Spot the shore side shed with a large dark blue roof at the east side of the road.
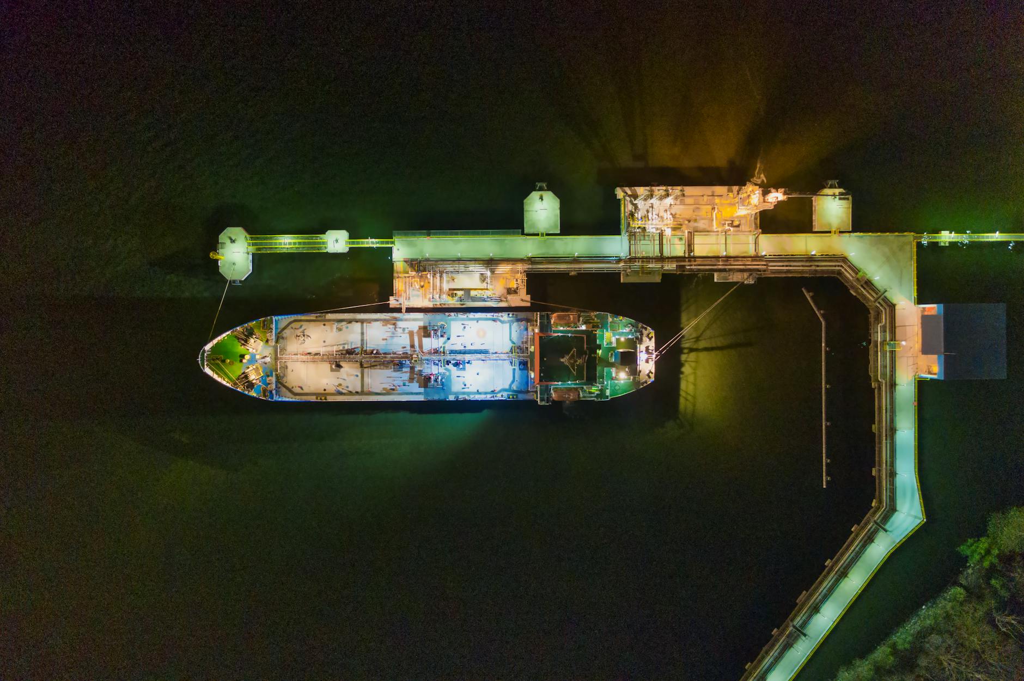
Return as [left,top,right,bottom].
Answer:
[915,303,1008,379]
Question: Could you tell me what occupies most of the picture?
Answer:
water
